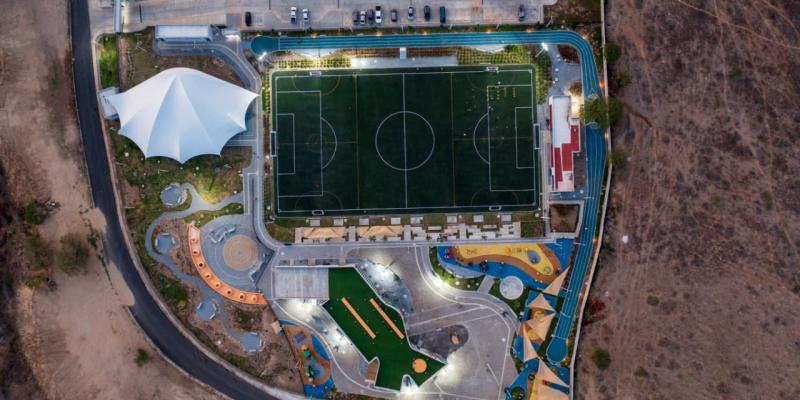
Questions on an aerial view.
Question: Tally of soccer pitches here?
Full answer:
In total, there is 1 soccer pitch in the scene.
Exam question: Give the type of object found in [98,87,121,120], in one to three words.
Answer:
building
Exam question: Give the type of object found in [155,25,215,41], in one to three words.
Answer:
building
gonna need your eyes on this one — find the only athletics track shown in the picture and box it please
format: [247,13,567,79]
[250,30,605,363]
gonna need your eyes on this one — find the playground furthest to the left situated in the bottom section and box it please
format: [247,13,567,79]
[280,320,334,397]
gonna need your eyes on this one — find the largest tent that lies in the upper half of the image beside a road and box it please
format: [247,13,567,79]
[109,67,265,168]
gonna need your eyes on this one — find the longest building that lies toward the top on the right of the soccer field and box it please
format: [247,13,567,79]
[549,97,580,192]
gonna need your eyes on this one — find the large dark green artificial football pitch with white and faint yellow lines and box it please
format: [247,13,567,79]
[274,65,539,217]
